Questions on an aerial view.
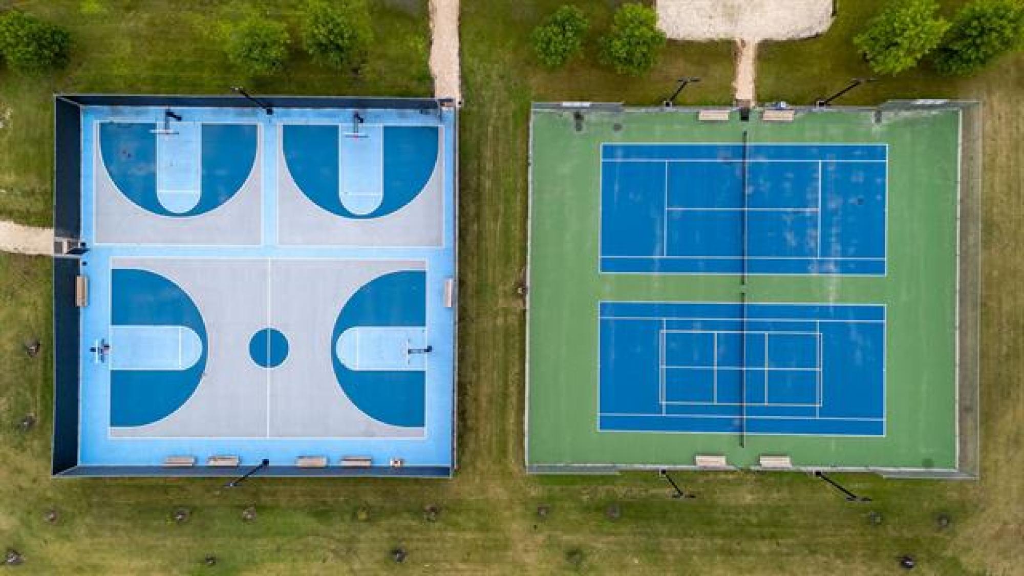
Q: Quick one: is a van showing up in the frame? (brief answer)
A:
No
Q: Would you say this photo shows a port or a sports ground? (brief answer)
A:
sports ground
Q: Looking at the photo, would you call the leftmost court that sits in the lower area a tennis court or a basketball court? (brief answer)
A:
basketball court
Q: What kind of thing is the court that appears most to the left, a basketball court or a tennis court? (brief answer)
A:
basketball court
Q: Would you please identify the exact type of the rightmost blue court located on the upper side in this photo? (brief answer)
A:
tennis court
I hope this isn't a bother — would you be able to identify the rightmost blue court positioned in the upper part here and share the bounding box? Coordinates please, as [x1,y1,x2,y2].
[599,144,888,276]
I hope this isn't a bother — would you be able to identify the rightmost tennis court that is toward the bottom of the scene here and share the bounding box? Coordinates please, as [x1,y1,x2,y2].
[598,301,886,437]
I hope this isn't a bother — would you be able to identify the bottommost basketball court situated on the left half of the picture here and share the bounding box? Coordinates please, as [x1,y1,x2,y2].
[108,257,427,439]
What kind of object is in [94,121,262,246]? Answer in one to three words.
basketball court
